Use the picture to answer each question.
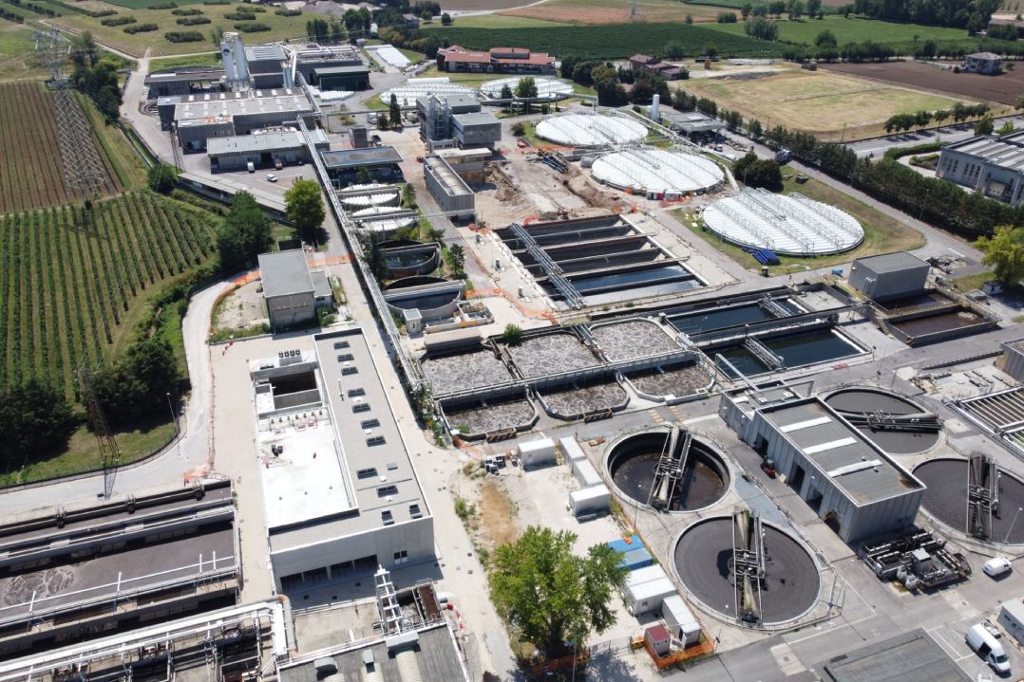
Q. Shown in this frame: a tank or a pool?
tank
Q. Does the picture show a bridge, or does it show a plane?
bridge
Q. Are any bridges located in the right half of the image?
Yes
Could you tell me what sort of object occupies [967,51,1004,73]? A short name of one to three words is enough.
house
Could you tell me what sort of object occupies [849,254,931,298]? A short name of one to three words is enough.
building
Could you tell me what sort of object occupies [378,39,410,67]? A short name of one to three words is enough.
greenhouse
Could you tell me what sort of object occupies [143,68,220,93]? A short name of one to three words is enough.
shed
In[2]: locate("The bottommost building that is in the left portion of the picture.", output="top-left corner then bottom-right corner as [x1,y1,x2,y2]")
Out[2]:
[309,615,470,682]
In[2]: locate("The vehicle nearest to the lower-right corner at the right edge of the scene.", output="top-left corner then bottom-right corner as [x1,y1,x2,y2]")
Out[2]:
[964,624,1013,673]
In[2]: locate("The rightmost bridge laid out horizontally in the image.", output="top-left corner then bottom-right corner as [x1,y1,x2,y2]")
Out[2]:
[831,408,945,429]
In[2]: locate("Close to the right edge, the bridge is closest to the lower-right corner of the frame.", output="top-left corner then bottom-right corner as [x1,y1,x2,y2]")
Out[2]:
[961,451,993,550]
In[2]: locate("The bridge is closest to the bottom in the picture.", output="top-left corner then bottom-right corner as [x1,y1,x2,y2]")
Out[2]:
[728,510,761,633]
